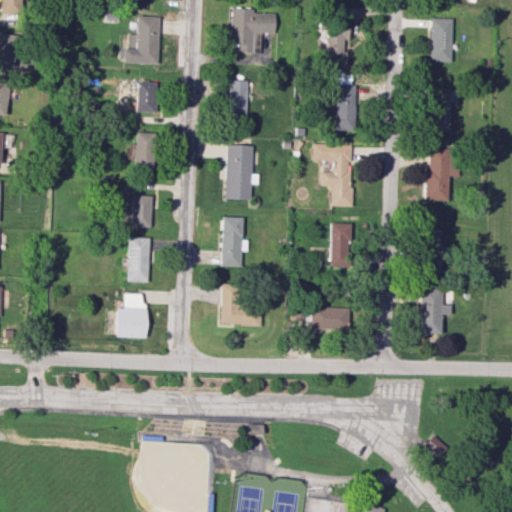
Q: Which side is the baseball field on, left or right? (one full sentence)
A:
The baseball field appears in the left half of the scene.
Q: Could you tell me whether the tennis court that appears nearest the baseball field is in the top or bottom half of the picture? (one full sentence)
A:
It is in the bottom half that the tennis court that appears nearest the baseball field appears.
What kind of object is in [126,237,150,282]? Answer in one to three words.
house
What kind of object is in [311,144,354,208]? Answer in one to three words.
house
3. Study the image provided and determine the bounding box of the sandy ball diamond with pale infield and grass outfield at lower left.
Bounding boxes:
[0,442,212,512]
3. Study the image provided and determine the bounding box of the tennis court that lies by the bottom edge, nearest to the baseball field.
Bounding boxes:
[232,474,271,512]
